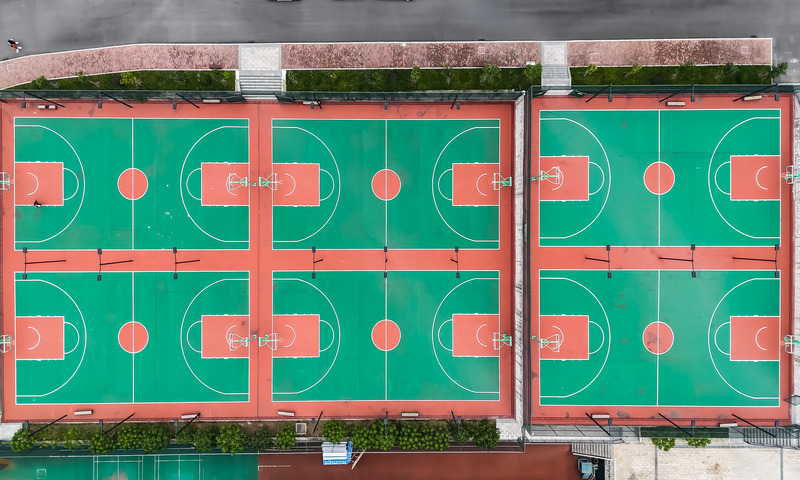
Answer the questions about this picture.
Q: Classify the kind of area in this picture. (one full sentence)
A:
This looks like a sports ground.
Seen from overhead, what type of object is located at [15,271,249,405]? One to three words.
basketball court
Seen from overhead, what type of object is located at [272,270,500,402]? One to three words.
basketball court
